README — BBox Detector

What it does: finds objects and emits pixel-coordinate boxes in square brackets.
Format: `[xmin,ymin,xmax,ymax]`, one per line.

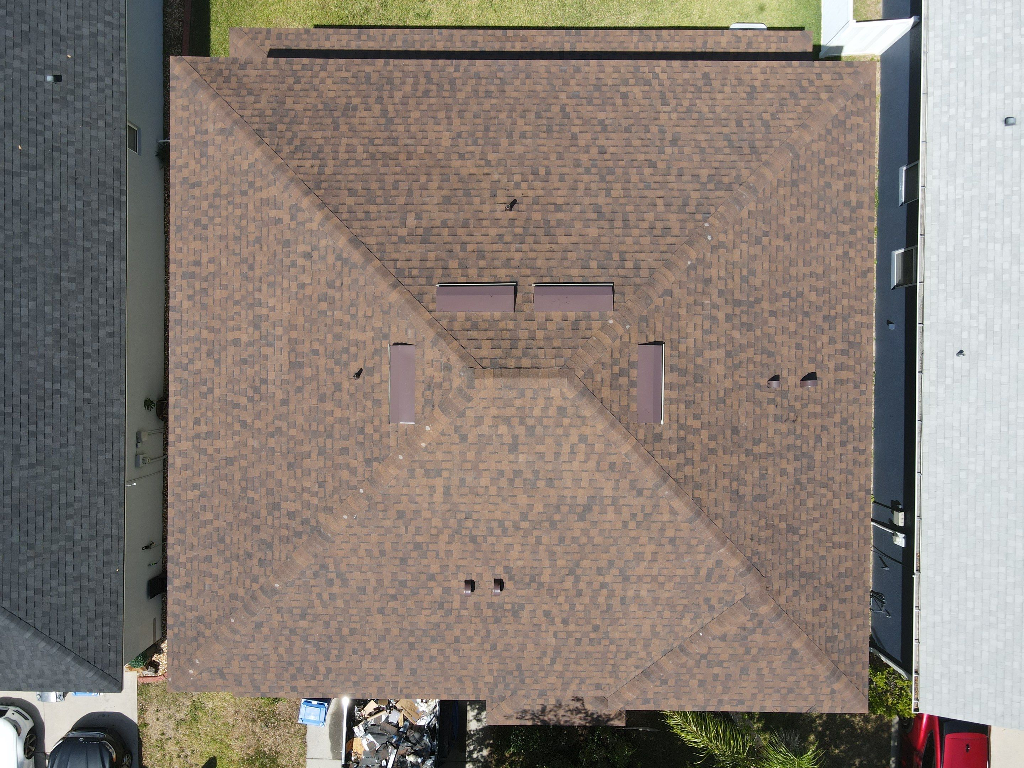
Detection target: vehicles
[891,681,993,768]
[0,708,41,768]
[49,726,137,768]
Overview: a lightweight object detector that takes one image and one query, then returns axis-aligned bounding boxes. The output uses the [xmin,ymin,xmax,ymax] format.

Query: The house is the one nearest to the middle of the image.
[166,26,877,727]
